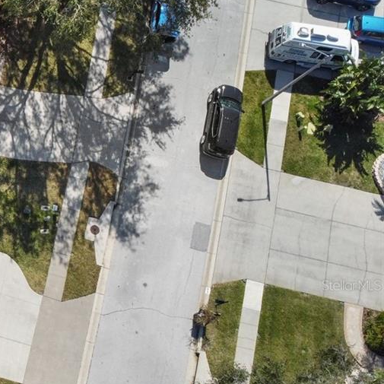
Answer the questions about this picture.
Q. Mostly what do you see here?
paved ground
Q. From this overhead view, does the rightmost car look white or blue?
blue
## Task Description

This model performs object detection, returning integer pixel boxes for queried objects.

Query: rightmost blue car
[348,14,384,51]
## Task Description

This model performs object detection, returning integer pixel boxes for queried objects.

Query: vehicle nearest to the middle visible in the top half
[196,83,246,164]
